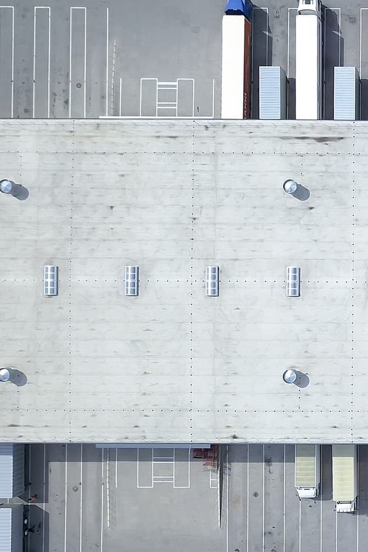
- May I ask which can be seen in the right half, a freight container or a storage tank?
freight container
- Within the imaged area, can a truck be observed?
Yes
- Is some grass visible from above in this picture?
No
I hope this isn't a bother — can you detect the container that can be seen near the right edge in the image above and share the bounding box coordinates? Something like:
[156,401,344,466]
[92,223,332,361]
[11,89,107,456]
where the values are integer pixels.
[335,67,361,121]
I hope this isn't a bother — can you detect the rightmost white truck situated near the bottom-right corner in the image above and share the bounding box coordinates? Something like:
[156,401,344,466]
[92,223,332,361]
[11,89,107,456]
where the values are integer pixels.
[334,446,358,515]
